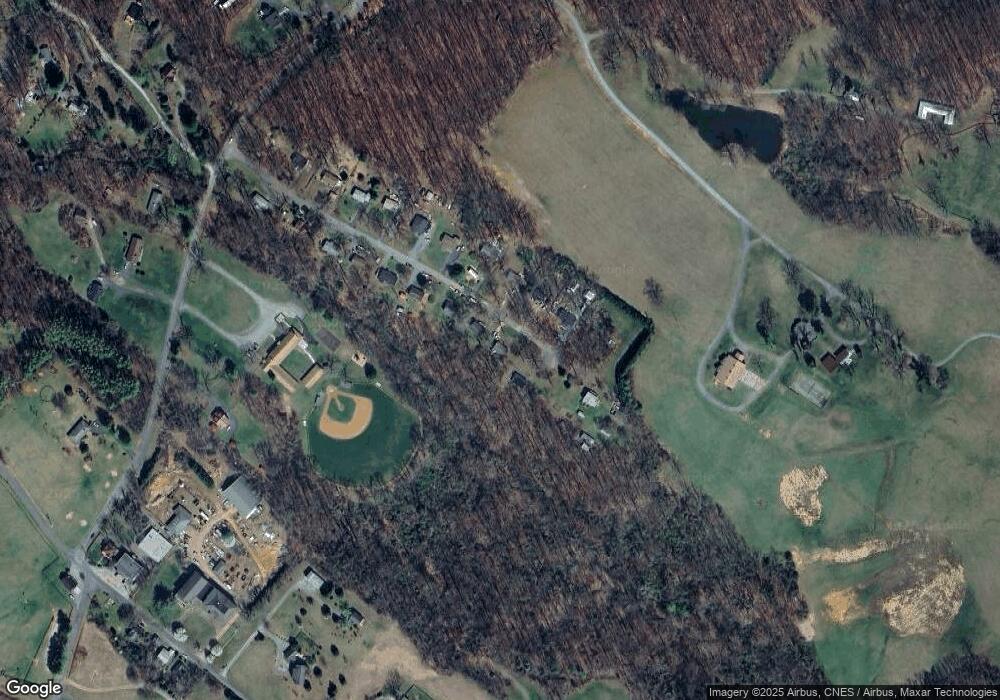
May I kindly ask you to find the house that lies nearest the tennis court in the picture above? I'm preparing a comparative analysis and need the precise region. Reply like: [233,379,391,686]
[819,345,850,372]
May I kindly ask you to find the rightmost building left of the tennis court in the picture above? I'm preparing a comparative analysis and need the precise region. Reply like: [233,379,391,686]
[714,351,748,389]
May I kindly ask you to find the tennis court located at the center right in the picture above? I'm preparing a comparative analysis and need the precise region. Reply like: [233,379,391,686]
[791,373,831,407]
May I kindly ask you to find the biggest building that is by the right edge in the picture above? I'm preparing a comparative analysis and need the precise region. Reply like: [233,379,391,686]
[917,100,956,126]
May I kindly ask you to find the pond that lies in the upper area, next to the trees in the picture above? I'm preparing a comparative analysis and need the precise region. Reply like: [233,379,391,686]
[666,89,784,163]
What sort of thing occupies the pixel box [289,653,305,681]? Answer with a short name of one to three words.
house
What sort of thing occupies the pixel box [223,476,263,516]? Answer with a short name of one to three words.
barn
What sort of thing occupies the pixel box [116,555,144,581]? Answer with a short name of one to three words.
building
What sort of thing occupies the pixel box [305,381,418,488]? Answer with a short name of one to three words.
baseball field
